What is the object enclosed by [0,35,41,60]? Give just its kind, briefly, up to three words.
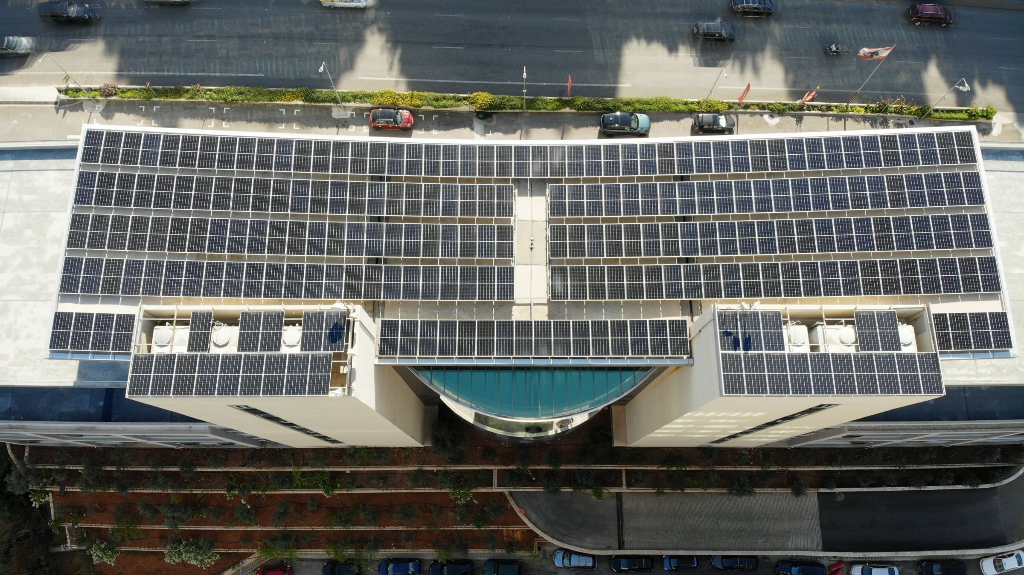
car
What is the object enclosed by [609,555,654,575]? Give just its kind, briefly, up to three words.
car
